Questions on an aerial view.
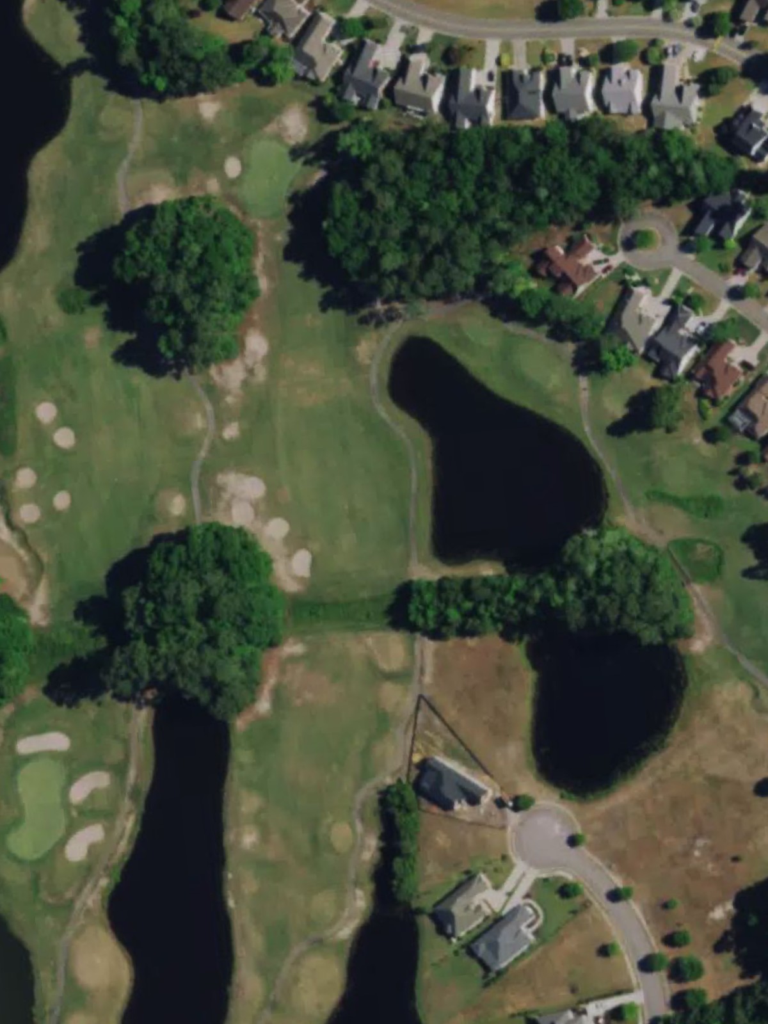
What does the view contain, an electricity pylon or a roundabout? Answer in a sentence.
Looking from above, you can make out a roundabout.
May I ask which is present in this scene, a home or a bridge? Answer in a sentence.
This aerial view contains a home.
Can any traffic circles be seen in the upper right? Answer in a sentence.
Yes, a traffic circle shows up in the upper right.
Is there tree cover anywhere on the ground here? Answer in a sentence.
Yes, the picture does contain tree cover.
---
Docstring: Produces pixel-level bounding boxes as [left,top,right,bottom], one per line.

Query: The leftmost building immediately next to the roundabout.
[543,233,598,298]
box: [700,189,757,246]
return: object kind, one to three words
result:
house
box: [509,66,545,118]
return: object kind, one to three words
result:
house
